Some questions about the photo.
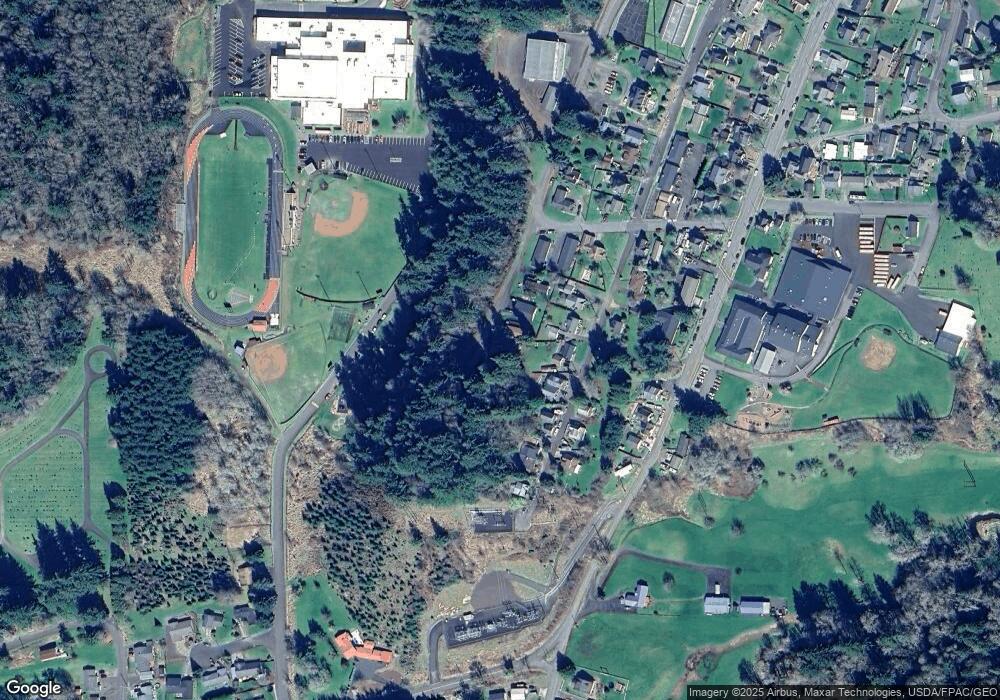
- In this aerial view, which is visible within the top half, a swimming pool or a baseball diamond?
baseball diamond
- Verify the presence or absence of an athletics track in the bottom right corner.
No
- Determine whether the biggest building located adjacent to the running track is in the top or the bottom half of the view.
top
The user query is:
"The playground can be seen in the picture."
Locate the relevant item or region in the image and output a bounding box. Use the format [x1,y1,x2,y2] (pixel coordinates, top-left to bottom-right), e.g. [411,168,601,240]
[736,385,793,432]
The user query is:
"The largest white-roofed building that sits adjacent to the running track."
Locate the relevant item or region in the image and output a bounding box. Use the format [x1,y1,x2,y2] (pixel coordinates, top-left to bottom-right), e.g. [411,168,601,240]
[257,18,414,126]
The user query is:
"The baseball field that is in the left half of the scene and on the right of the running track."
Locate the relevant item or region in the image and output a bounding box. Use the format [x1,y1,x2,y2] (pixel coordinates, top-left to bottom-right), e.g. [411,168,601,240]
[297,174,406,301]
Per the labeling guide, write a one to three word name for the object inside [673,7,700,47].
shed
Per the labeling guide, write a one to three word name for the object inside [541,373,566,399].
house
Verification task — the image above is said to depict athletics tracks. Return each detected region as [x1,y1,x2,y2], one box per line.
[183,106,282,326]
